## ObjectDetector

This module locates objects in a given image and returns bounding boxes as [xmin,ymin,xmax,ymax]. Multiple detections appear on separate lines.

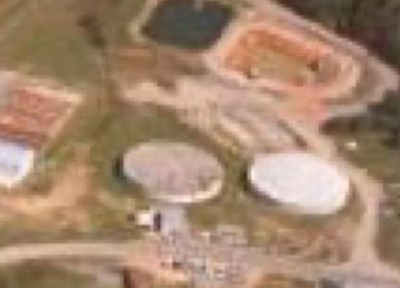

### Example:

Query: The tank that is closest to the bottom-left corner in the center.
[122,140,225,206]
